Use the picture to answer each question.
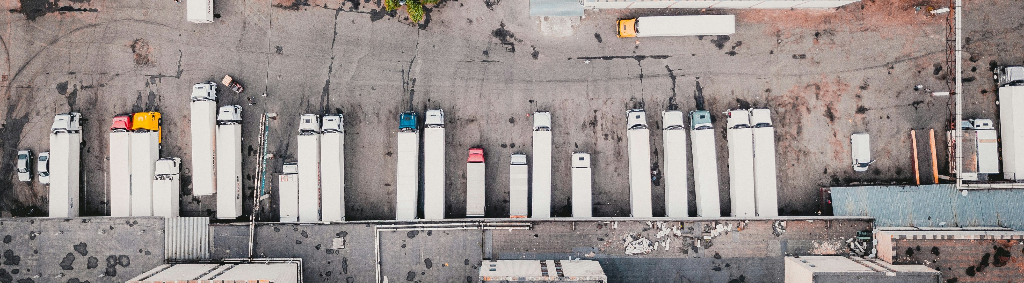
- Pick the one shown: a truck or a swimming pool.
truck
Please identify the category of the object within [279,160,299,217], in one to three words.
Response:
vehicle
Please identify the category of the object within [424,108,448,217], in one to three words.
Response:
truck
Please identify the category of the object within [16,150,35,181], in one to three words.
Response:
car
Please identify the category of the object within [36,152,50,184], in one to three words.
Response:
car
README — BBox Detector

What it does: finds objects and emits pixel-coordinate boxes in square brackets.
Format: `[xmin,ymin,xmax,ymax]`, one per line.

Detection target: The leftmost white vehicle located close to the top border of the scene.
[187,0,218,23]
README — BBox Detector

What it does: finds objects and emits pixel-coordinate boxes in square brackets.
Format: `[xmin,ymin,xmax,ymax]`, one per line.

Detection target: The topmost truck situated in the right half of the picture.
[613,15,734,38]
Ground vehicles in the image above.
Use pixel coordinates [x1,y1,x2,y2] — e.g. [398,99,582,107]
[424,108,448,217]
[849,132,876,171]
[153,155,185,217]
[570,151,592,217]
[689,109,720,217]
[187,0,218,23]
[190,82,220,196]
[466,146,487,215]
[531,111,554,217]
[49,112,86,216]
[997,65,1024,178]
[131,111,164,216]
[397,111,420,217]
[36,152,50,184]
[298,113,323,217]
[320,113,347,217]
[16,150,35,181]
[613,15,734,38]
[720,109,755,217]
[747,108,777,217]
[216,104,246,217]
[110,112,140,216]
[279,160,299,217]
[965,118,998,173]
[508,152,529,215]
[661,110,687,217]
[625,109,651,217]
